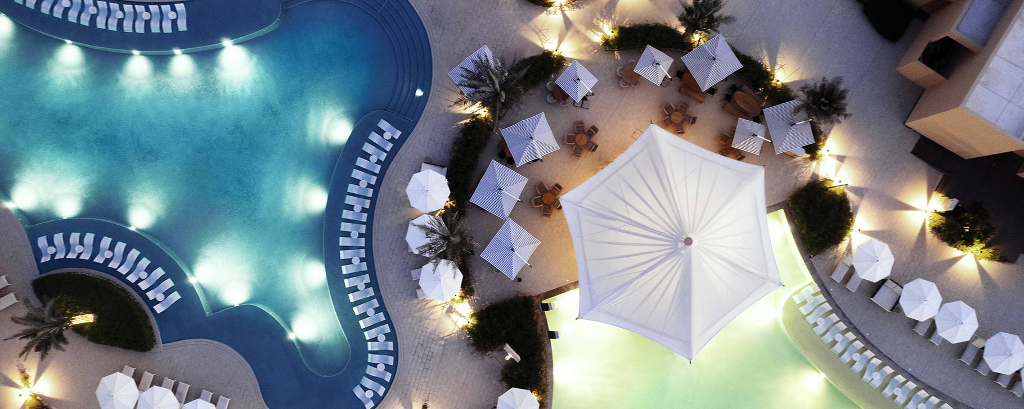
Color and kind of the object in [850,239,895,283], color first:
white umbrella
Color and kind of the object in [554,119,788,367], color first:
white tent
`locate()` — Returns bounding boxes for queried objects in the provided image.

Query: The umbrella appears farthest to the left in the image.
[94,371,141,409]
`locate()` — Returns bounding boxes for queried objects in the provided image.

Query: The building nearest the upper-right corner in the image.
[897,0,1024,160]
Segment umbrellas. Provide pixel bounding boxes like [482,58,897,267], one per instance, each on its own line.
[183,398,221,409]
[405,169,450,213]
[94,371,141,409]
[501,111,560,168]
[404,213,449,258]
[681,33,743,92]
[470,160,528,220]
[979,330,1024,376]
[763,98,814,155]
[136,382,184,409]
[932,300,978,345]
[730,118,773,155]
[449,44,510,108]
[483,218,541,280]
[633,45,674,86]
[418,257,464,303]
[494,386,540,409]
[556,60,598,105]
[897,276,943,322]
[850,239,895,283]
